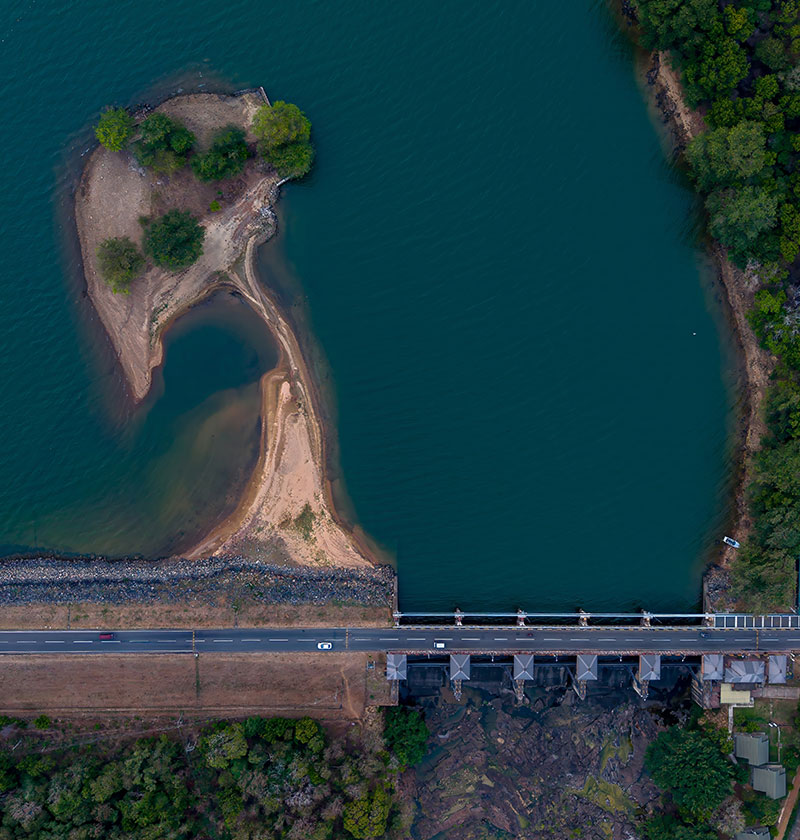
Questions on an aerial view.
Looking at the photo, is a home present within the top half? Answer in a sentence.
No, the scene shows no home within the top half.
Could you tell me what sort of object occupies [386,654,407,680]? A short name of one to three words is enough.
building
